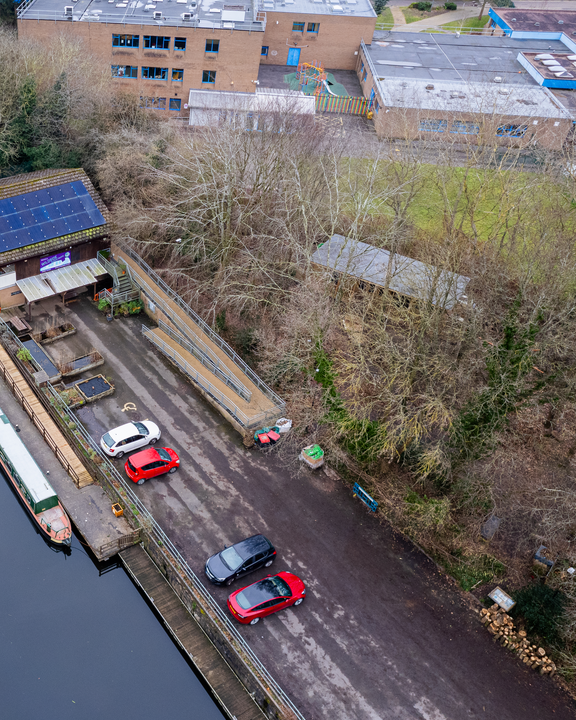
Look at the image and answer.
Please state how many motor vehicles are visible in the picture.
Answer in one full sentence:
My tally gives 4 motor vehicles in this view.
